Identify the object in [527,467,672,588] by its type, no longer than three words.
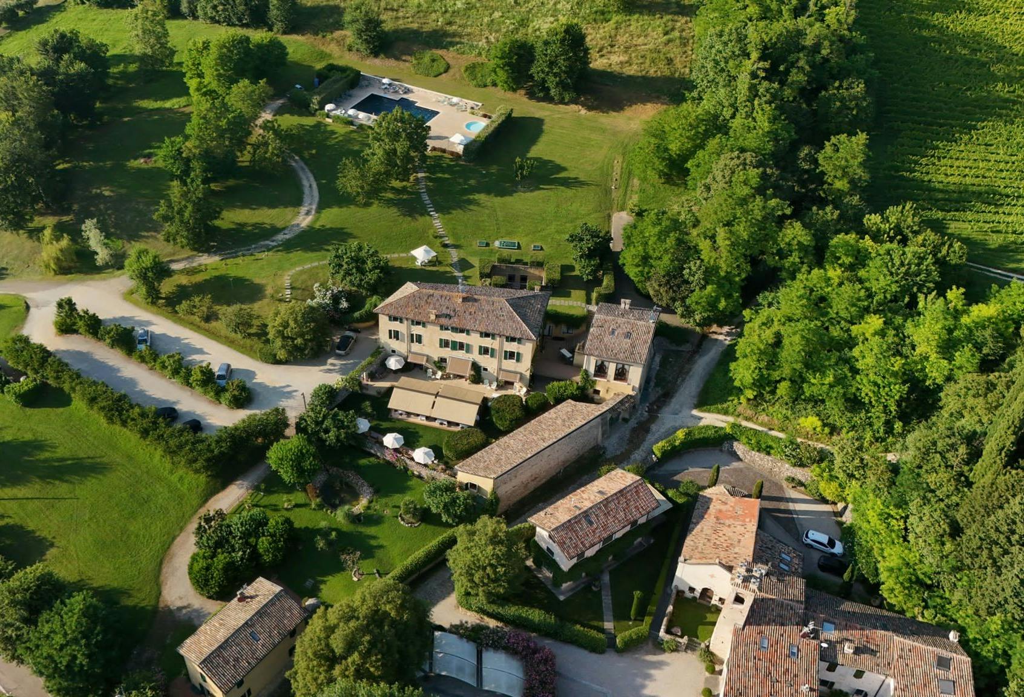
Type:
house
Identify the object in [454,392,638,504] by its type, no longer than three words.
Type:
barn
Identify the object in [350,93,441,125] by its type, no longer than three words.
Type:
swimming pool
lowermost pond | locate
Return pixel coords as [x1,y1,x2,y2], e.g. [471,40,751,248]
[312,465,369,513]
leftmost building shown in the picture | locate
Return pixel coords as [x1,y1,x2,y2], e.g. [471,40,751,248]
[176,575,310,697]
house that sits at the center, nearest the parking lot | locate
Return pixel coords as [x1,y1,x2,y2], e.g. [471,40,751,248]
[373,277,551,389]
